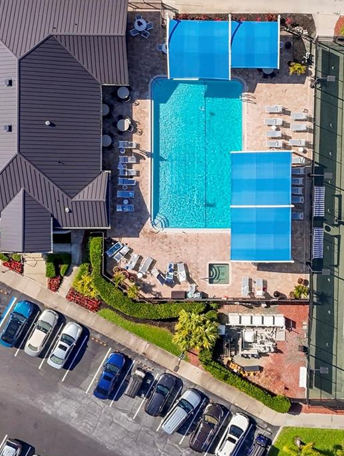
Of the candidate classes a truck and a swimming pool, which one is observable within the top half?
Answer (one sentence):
There is a swimming pool within the top half.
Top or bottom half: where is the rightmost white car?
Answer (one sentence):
The rightmost white car is in the bottom half of the image.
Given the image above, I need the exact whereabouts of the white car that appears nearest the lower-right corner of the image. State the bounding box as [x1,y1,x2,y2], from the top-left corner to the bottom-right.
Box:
[214,413,251,456]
